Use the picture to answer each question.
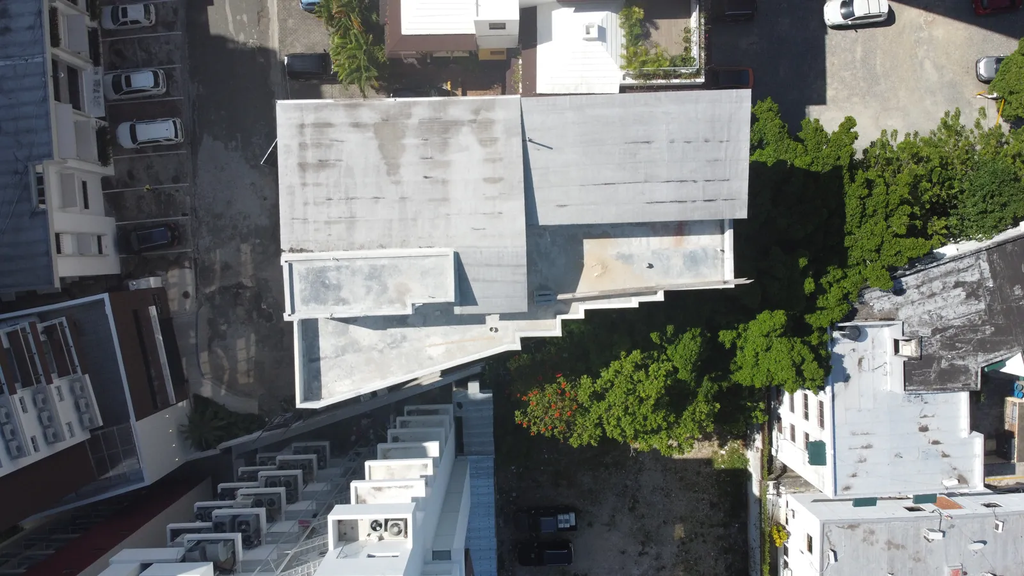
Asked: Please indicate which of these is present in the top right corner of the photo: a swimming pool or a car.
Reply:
car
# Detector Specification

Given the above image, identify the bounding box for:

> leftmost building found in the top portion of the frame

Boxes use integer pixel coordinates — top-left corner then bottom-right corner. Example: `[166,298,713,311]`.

[0,0,125,294]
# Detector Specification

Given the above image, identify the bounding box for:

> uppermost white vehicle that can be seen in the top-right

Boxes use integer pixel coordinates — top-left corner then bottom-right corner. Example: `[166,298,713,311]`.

[819,0,888,30]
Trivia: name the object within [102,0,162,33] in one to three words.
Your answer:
car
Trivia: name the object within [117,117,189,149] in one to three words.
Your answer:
car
